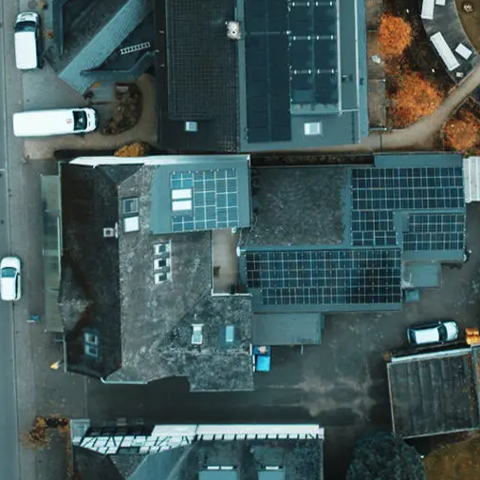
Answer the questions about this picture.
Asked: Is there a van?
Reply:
Yes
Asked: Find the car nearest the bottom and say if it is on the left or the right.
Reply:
right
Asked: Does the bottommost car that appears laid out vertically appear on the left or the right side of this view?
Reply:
left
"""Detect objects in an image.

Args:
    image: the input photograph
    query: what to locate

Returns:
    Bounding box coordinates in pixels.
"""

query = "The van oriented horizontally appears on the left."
[10,105,99,135]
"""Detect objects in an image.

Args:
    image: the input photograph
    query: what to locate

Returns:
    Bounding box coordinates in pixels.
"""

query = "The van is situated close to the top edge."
[12,12,43,70]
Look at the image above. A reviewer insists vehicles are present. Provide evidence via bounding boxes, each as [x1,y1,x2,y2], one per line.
[406,319,459,347]
[10,105,99,135]
[12,12,43,70]
[0,256,23,303]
